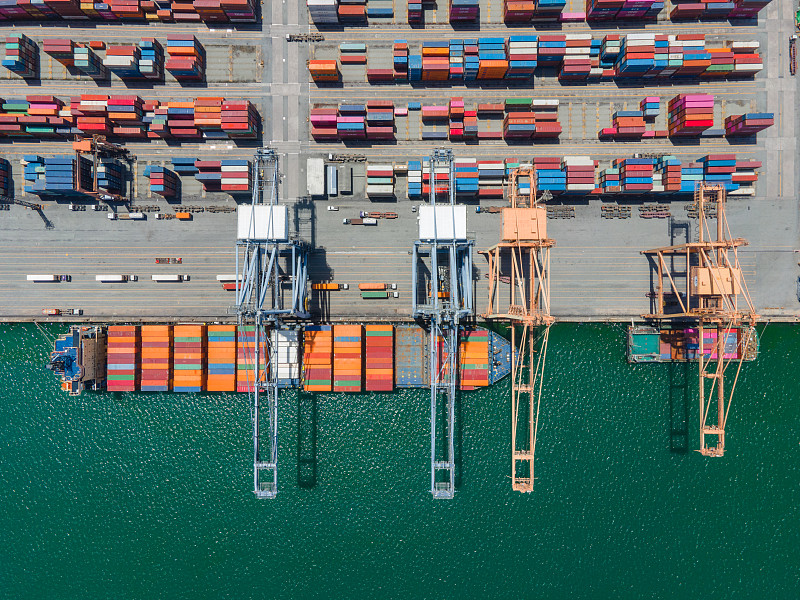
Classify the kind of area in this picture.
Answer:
port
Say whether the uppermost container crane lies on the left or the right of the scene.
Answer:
left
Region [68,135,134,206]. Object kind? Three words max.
container crane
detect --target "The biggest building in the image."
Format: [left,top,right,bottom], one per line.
[307,158,326,198]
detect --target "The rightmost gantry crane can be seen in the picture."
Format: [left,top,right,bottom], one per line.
[638,187,755,456]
